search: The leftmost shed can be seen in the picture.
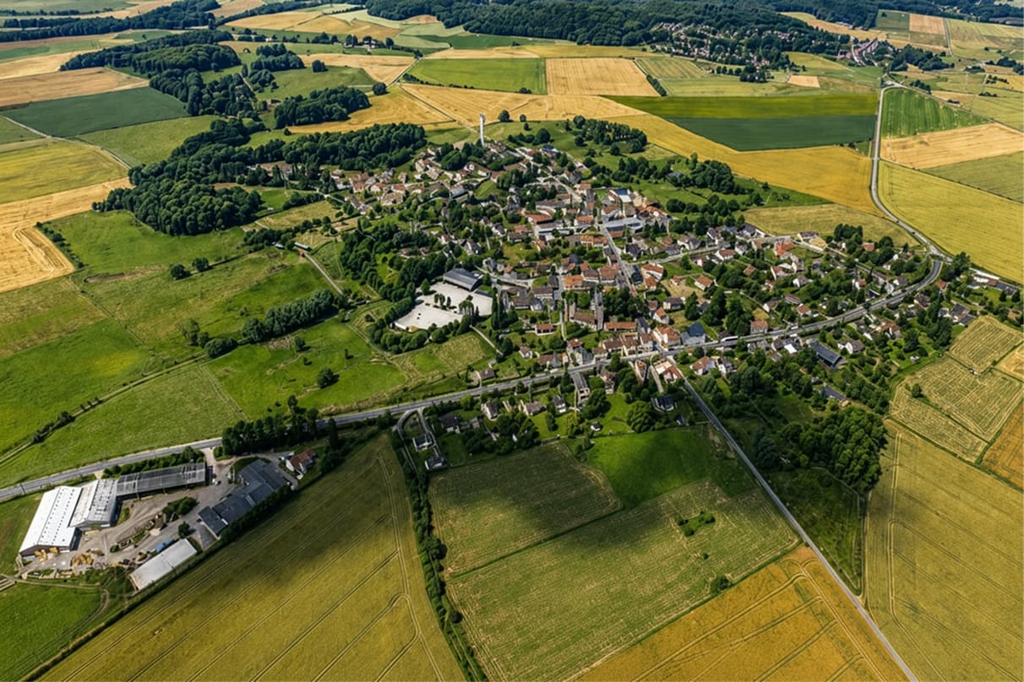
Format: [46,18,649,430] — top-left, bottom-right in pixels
[8,486,86,563]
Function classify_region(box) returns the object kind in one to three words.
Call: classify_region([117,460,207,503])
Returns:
barn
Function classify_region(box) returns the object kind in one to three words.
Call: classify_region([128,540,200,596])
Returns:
shed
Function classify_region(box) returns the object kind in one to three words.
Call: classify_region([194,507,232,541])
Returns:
building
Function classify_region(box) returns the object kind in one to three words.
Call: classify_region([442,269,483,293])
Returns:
building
